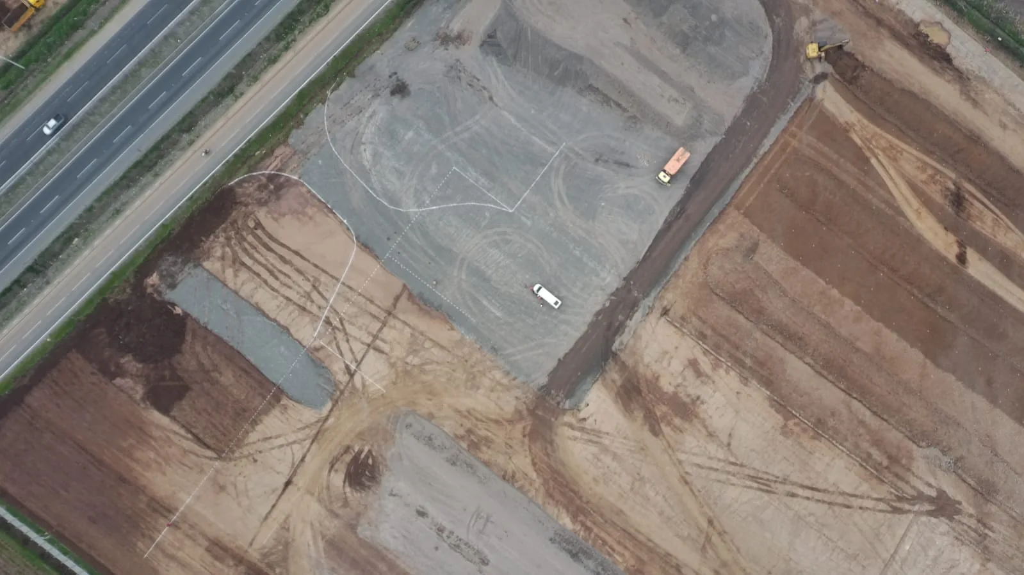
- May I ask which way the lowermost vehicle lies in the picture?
at an angle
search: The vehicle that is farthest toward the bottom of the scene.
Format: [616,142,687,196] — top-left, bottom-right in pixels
[533,285,562,309]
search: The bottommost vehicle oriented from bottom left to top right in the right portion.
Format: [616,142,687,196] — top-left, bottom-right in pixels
[655,146,690,185]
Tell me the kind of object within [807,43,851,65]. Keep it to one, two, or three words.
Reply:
work vehicle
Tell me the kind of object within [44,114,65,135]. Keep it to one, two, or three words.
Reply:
truck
